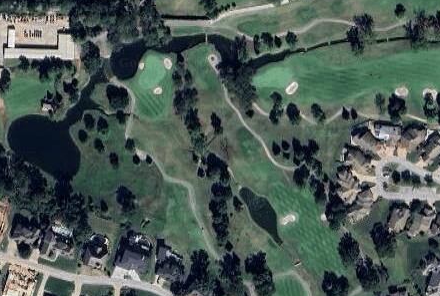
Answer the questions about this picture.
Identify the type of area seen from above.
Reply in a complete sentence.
The area seen from above is a golf course.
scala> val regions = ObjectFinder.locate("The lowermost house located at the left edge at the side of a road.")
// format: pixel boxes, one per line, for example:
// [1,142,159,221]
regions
[6,264,37,296]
